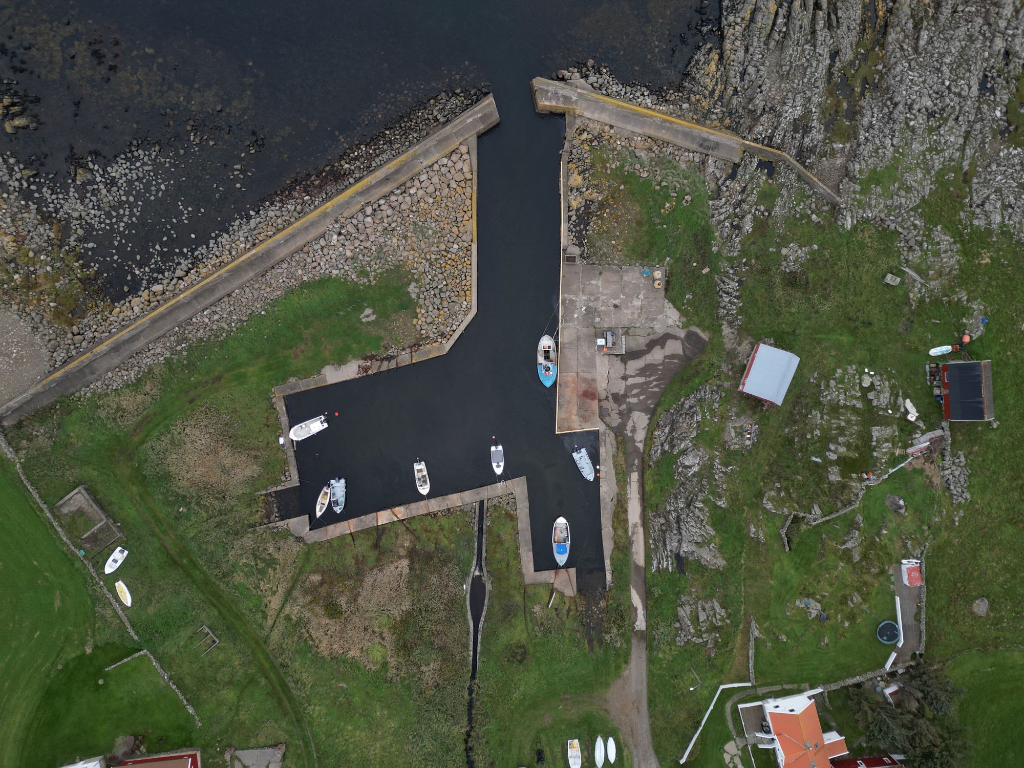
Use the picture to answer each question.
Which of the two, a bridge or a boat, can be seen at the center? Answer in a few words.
boat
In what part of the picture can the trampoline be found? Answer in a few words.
bottom right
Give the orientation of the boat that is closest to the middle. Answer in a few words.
up and down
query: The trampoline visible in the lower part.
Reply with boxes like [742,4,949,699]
[878,623,902,646]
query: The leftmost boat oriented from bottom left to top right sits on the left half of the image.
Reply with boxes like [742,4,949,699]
[105,545,129,574]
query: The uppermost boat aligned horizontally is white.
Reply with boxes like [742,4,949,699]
[927,344,952,357]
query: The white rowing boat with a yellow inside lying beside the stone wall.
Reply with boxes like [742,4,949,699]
[117,581,133,607]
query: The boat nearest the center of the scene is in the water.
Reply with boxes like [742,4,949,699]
[537,335,557,388]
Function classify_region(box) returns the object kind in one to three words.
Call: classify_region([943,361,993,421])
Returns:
shed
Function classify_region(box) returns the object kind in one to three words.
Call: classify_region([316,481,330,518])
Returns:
boat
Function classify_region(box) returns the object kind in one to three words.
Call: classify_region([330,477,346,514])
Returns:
boat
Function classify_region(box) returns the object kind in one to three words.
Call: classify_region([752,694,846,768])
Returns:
house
